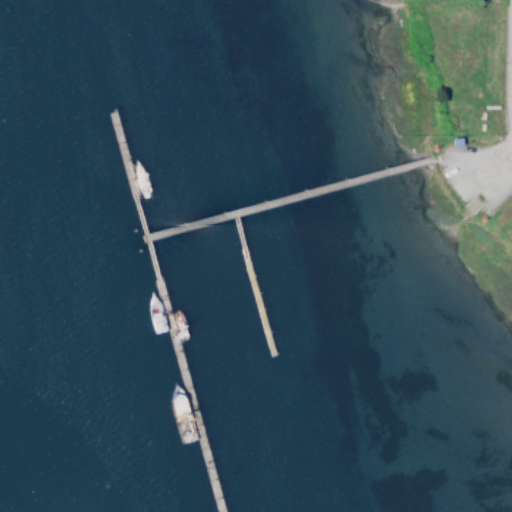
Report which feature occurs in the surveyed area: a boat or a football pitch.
boat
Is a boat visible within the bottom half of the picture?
Yes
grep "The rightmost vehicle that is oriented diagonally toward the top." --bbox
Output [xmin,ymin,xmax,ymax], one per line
[445,165,462,178]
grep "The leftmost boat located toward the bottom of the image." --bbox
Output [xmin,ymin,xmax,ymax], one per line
[150,290,169,334]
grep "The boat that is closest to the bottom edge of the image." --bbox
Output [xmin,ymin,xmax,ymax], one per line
[172,384,202,444]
